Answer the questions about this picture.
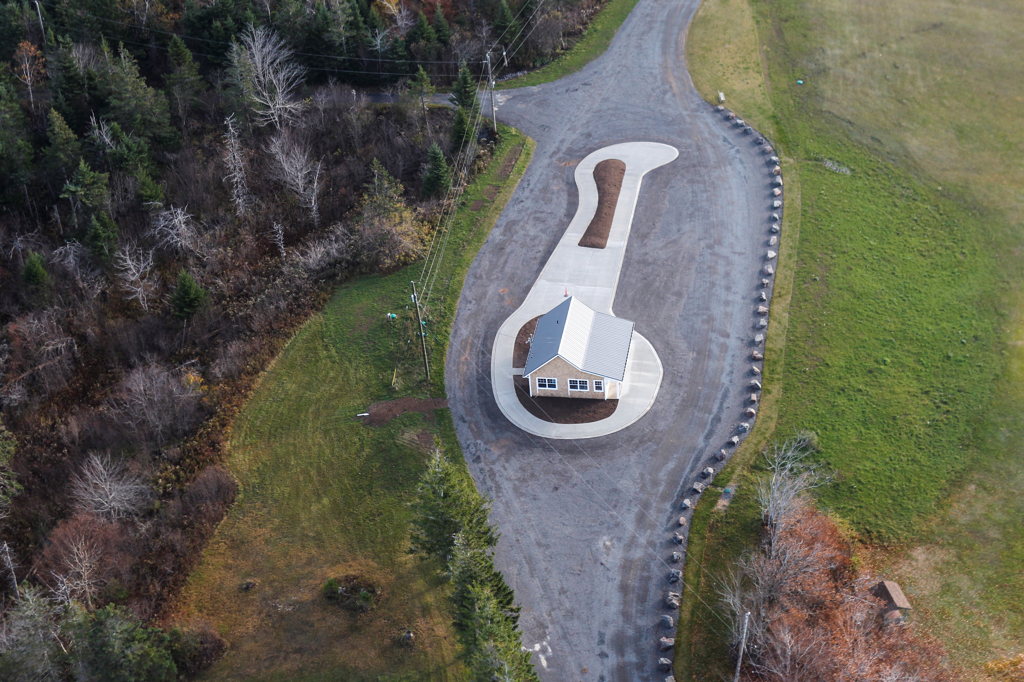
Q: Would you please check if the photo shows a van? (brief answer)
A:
No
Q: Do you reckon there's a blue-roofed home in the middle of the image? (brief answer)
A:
No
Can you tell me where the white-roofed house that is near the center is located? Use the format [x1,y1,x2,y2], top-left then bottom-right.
[522,296,634,399]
